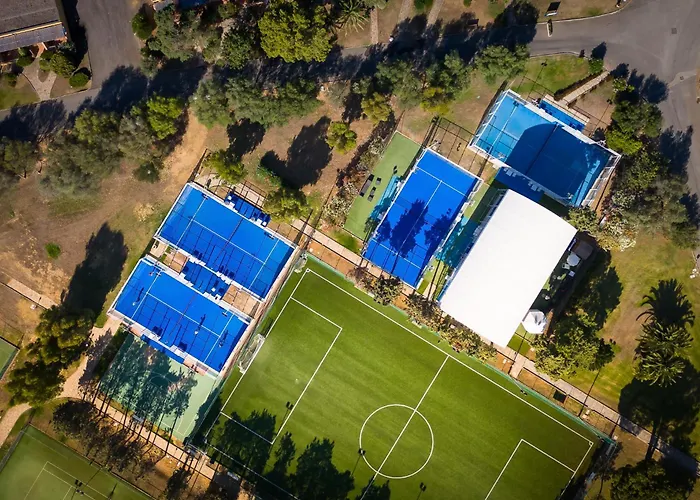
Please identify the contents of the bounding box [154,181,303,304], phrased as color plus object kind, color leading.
blue sports court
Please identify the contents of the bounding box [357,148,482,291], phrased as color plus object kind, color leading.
blue sports court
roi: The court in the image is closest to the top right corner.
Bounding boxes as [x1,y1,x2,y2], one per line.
[464,88,618,213]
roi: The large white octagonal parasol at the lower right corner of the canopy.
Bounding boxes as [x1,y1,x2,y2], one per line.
[521,309,546,333]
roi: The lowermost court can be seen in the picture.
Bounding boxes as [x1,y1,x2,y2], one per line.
[0,418,166,500]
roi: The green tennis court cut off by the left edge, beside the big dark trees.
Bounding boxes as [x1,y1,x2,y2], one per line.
[0,330,21,378]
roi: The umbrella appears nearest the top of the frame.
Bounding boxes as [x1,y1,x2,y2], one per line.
[563,252,580,266]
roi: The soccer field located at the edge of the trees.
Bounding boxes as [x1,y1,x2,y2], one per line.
[189,258,608,500]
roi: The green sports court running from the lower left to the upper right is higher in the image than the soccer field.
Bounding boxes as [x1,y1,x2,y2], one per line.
[343,131,421,240]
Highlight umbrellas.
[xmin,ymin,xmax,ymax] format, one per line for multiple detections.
[521,309,546,333]
[563,252,580,266]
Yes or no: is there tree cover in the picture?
Yes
